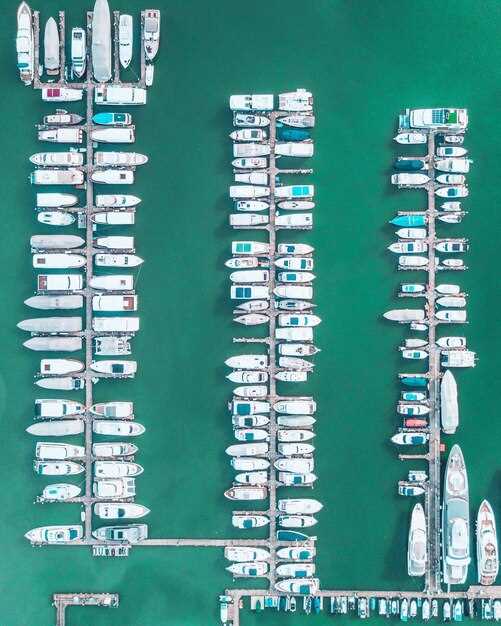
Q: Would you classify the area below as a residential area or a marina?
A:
marina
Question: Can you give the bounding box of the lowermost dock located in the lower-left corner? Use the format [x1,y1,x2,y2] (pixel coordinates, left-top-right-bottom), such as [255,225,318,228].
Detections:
[53,591,120,626]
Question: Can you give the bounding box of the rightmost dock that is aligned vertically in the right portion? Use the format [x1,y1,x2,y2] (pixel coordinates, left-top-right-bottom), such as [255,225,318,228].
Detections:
[396,128,469,589]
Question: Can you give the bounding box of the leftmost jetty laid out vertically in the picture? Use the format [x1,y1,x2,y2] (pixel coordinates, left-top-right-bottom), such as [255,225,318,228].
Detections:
[27,10,147,547]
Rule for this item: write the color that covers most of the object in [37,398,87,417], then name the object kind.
white boat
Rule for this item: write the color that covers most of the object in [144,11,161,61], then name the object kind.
white boat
